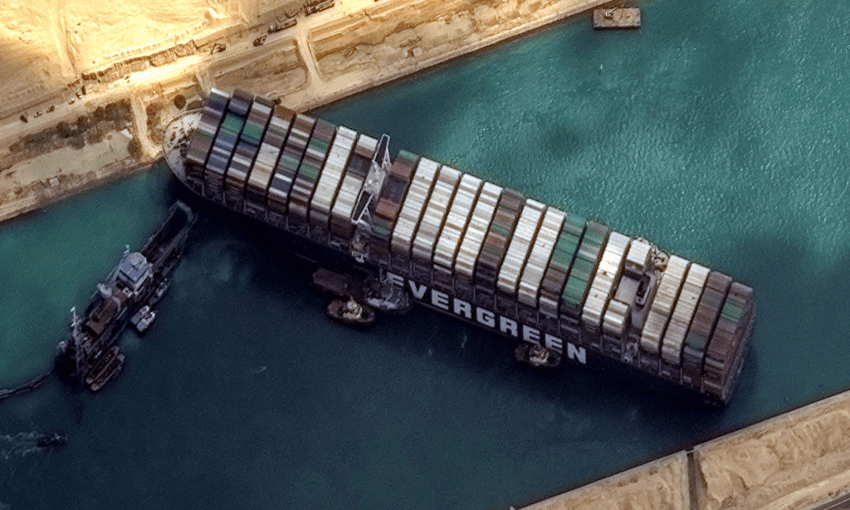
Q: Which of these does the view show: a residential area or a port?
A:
port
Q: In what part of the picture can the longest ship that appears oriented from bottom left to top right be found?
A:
left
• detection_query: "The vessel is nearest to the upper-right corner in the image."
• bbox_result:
[594,9,640,29]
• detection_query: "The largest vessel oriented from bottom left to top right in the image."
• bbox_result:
[63,201,193,377]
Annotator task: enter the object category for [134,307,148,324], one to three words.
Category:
boat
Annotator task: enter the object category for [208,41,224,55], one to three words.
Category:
work vehicle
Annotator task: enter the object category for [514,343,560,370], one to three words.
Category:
boat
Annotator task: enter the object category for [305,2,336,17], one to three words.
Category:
vehicle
